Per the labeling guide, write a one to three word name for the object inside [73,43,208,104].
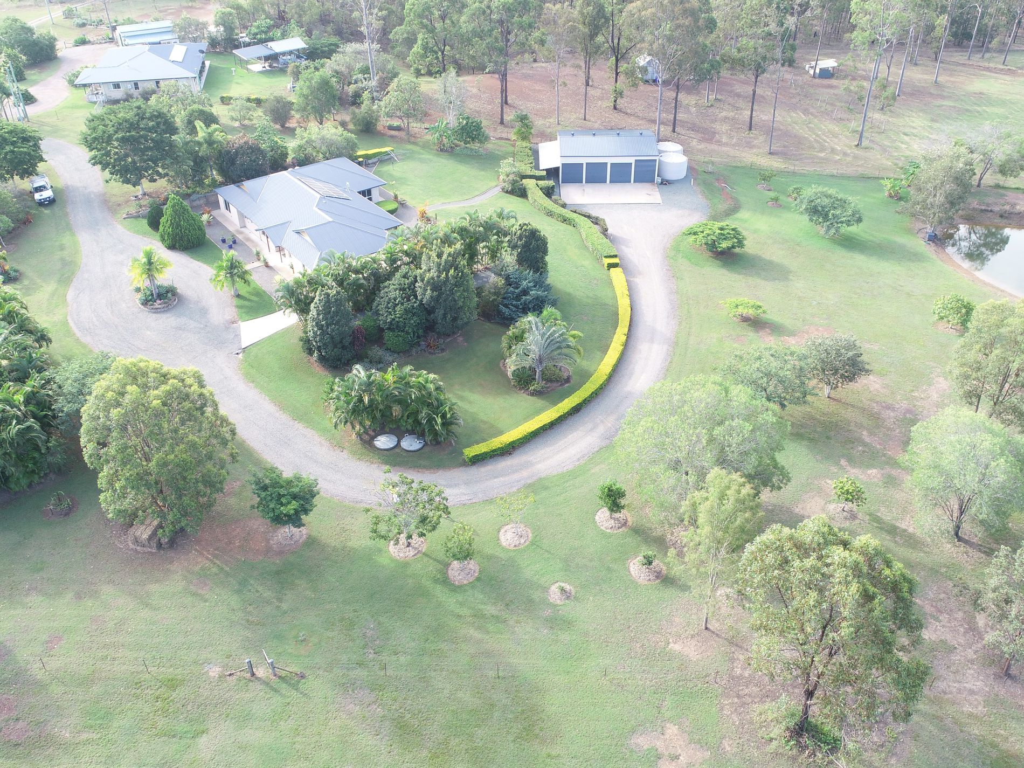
house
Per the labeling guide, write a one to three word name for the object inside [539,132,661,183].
shed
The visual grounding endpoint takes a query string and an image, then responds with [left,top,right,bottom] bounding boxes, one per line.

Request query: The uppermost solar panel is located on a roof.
[167,43,187,63]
